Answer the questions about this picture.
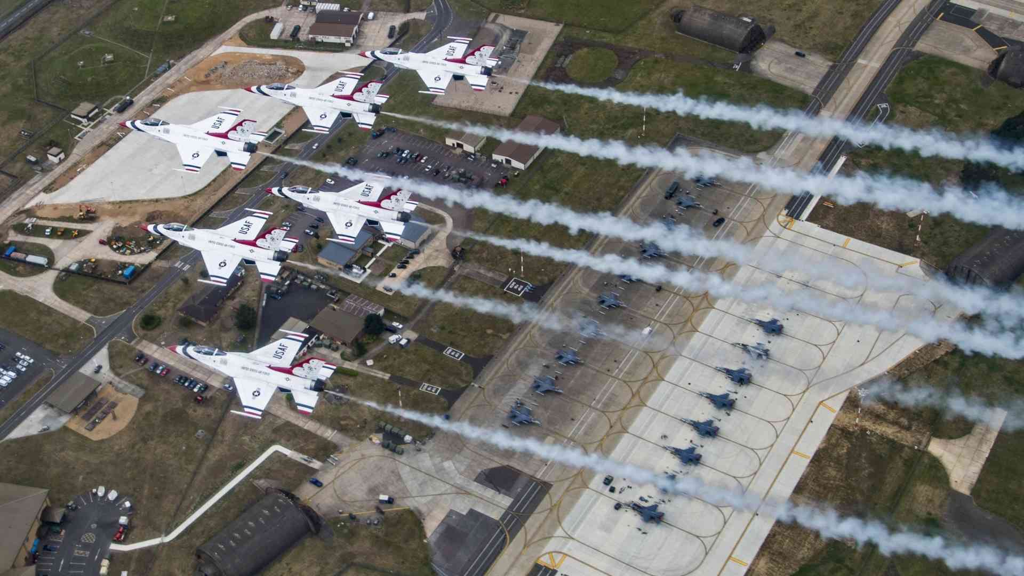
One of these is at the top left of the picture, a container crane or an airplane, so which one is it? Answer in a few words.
airplane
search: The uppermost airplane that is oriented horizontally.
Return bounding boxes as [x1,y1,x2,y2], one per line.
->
[358,37,498,96]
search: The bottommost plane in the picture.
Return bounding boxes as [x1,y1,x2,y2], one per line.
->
[626,503,666,526]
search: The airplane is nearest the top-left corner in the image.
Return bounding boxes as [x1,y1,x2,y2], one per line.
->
[118,107,267,174]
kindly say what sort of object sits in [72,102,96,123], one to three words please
building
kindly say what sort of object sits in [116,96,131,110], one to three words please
vehicle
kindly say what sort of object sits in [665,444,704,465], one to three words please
airplane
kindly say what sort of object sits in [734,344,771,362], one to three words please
airplane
